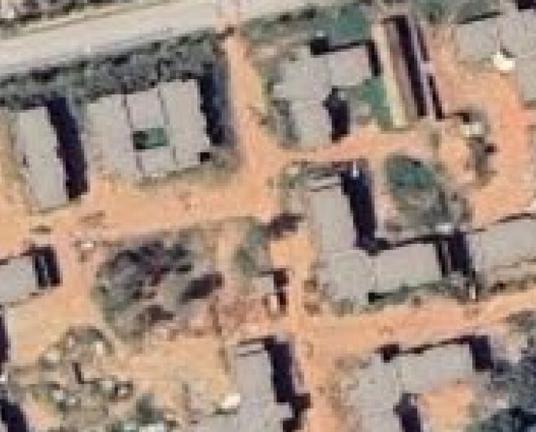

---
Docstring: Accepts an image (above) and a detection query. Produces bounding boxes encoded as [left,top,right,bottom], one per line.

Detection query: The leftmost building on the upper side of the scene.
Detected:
[17,108,69,213]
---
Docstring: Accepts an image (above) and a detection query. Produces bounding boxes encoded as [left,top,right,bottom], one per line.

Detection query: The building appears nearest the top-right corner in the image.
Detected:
[458,3,536,101]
